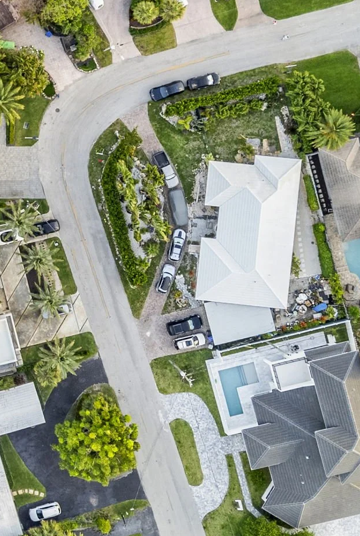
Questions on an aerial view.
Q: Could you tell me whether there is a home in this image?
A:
Yes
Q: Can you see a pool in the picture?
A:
Yes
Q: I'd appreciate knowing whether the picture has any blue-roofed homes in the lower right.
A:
No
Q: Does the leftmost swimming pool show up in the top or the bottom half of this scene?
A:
bottom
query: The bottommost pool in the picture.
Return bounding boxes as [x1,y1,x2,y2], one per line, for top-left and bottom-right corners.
[218,363,259,416]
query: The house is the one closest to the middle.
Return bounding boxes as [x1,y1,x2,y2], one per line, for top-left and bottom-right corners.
[192,155,302,345]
